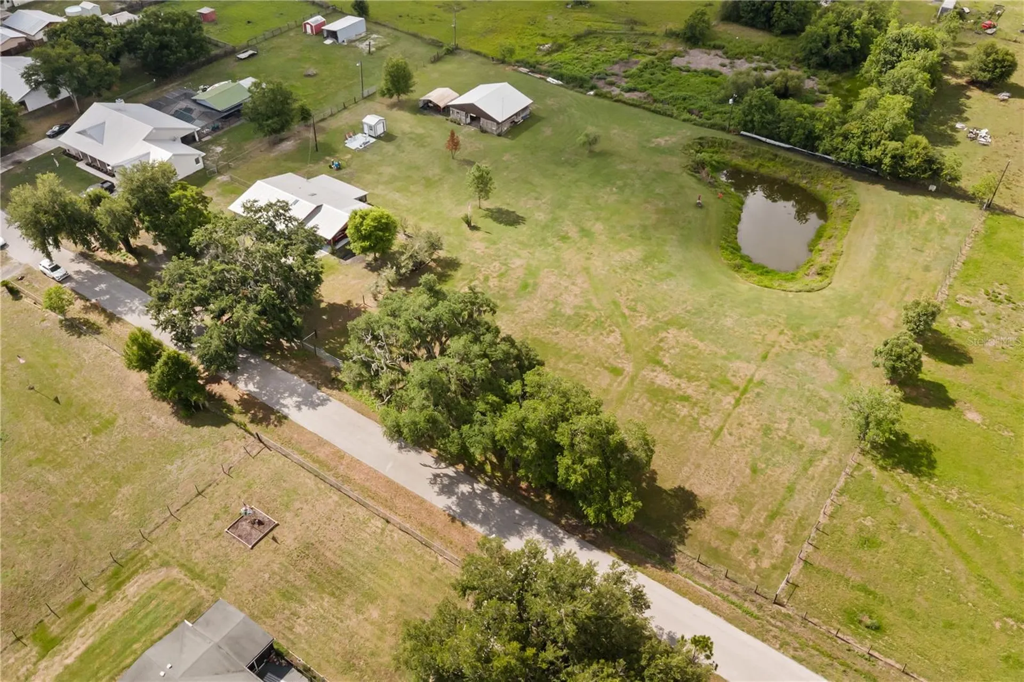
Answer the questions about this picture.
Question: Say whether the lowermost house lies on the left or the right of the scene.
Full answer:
The lowermost house is on the left side of the image.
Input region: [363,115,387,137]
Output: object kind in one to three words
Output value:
shed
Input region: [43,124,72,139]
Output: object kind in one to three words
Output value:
car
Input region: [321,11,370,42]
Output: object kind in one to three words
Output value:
shed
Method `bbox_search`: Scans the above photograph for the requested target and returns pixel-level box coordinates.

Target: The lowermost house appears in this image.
[118,599,275,682]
